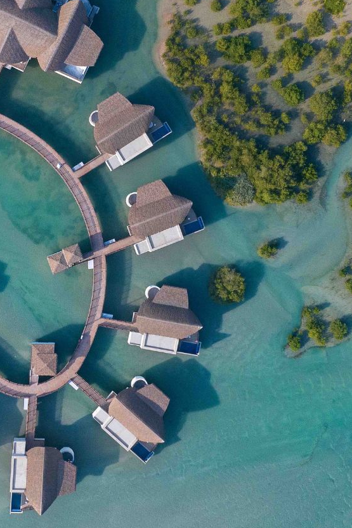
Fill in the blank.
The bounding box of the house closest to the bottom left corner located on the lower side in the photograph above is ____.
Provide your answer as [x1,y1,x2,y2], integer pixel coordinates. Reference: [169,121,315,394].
[10,434,76,514]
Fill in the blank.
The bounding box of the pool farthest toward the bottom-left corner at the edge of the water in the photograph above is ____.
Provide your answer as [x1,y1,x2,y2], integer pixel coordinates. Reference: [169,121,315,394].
[11,490,25,511]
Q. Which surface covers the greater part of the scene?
water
